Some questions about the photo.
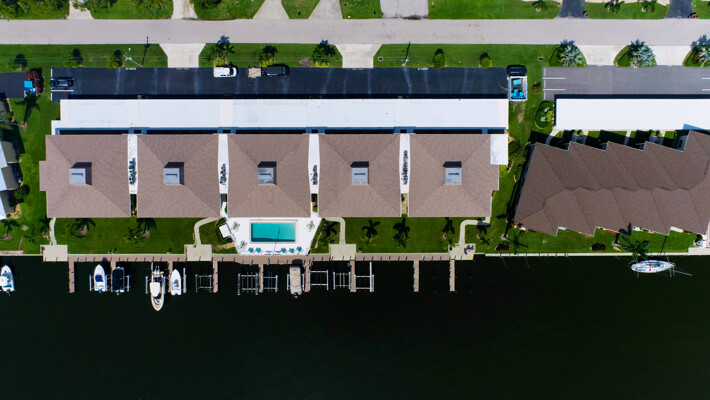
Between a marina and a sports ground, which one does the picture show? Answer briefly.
marina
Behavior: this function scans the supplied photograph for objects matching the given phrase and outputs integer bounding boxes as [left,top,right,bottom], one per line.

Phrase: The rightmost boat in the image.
[629,260,692,274]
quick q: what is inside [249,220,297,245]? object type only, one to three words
swimming pool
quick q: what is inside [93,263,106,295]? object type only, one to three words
boat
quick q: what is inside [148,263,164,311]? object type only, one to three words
boat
